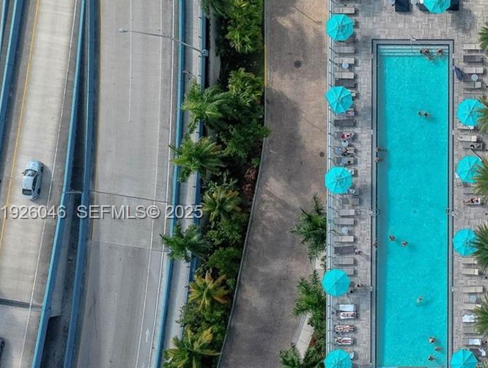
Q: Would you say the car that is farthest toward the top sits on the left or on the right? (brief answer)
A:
left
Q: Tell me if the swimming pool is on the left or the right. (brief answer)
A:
right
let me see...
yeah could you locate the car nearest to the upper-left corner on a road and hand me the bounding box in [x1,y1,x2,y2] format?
[21,159,46,201]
